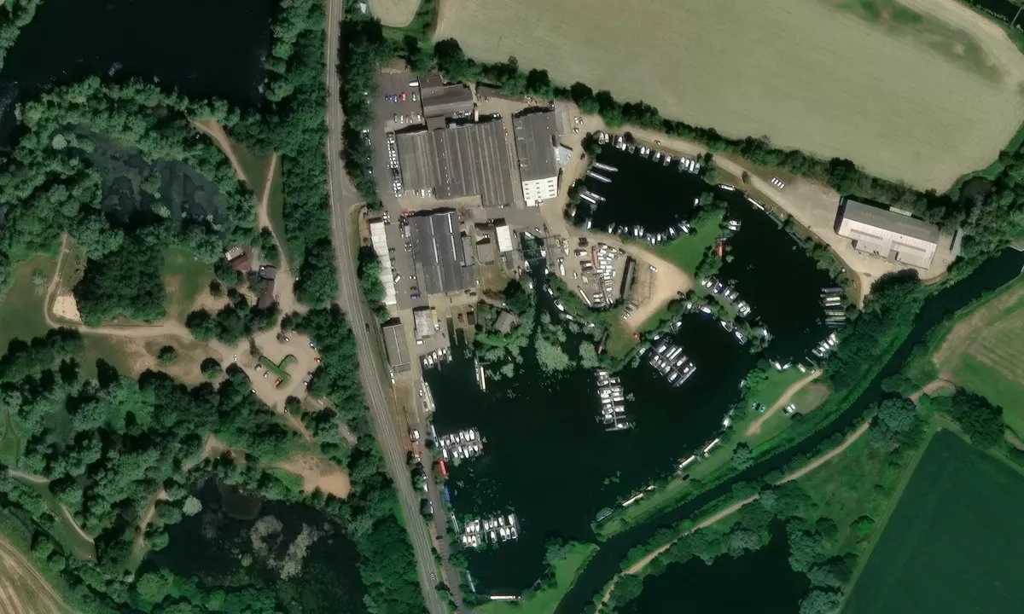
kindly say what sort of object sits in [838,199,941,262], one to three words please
barn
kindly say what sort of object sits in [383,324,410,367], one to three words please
shed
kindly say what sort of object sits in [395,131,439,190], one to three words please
building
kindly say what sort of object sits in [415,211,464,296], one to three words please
building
